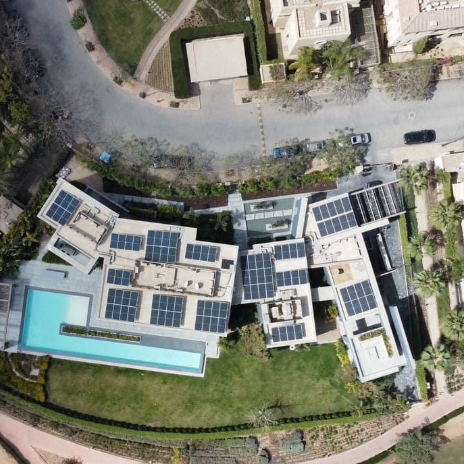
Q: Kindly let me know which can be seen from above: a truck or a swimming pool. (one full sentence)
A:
The one in the frame is a swimming pool.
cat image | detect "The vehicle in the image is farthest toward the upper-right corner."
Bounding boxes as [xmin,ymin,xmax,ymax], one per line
[401,129,436,145]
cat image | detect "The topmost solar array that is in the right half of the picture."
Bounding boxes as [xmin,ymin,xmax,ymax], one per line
[312,199,356,236]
